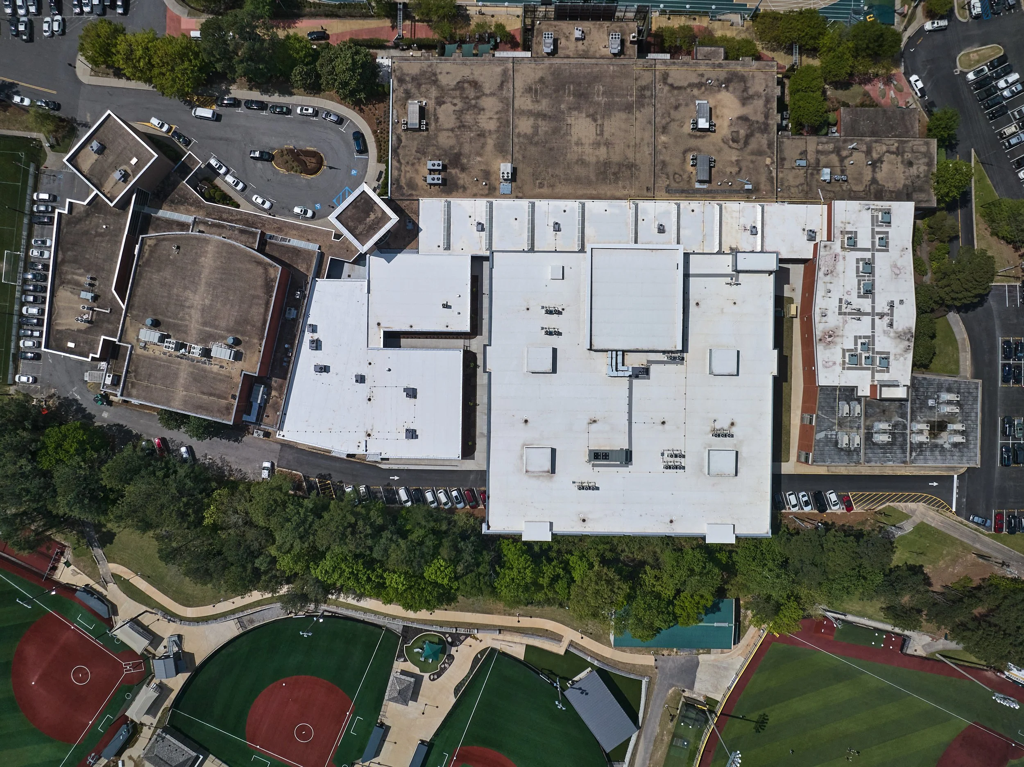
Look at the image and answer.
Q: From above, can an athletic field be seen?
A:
Yes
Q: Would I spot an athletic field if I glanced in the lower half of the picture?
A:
Yes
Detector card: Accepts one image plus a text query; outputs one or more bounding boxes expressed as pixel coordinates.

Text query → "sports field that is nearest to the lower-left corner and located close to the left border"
[0,566,153,767]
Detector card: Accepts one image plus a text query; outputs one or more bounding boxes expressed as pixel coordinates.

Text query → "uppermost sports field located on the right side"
[834,623,887,648]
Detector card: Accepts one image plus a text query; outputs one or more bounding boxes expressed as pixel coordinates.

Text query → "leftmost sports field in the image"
[0,136,41,384]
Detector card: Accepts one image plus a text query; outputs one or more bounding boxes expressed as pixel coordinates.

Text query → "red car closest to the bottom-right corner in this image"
[993,513,1005,534]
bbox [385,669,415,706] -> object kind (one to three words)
building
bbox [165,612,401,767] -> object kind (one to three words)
sports field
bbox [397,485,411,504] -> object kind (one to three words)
car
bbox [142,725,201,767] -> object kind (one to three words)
building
